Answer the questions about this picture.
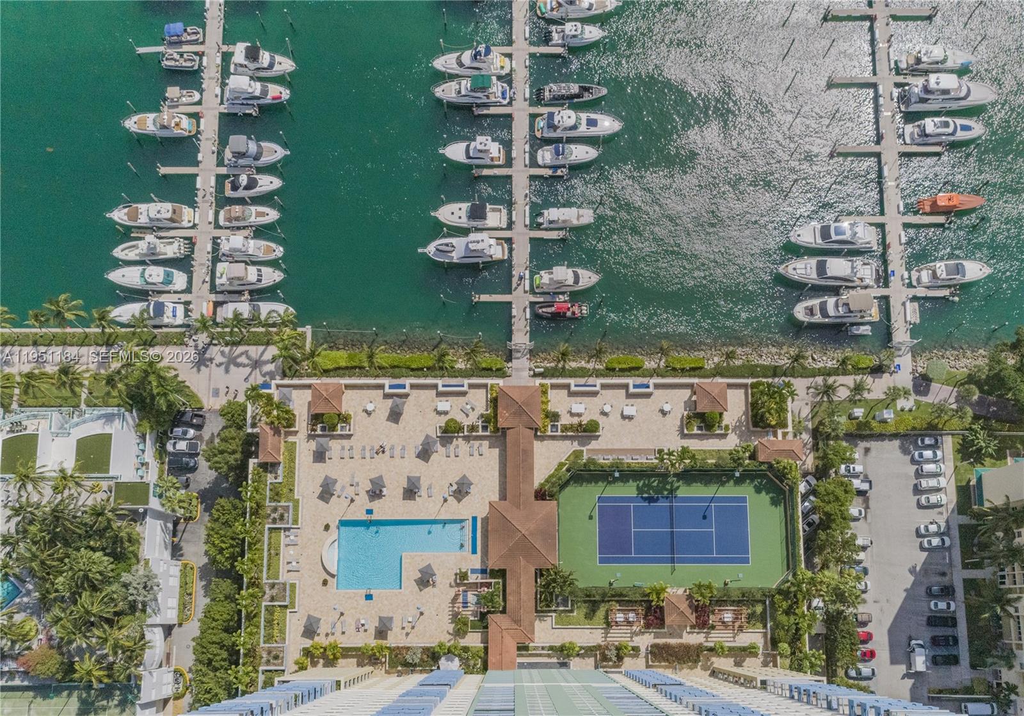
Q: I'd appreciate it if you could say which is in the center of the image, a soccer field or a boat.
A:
boat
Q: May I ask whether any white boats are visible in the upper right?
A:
Yes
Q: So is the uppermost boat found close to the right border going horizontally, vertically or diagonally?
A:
horizontally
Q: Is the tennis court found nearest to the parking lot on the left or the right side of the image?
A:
right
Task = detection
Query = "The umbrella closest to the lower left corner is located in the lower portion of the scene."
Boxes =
[302,612,324,632]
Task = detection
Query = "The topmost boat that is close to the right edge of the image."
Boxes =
[896,48,977,76]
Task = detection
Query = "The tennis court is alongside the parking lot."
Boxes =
[558,474,787,587]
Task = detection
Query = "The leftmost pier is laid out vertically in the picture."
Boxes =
[131,0,259,322]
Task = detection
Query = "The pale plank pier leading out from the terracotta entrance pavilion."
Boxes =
[474,0,569,352]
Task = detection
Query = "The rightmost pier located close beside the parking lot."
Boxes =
[831,0,951,351]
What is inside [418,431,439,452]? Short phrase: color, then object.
gray umbrella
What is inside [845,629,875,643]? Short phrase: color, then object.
red car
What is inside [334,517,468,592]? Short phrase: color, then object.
blue swimming pool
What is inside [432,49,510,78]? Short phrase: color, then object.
white boat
